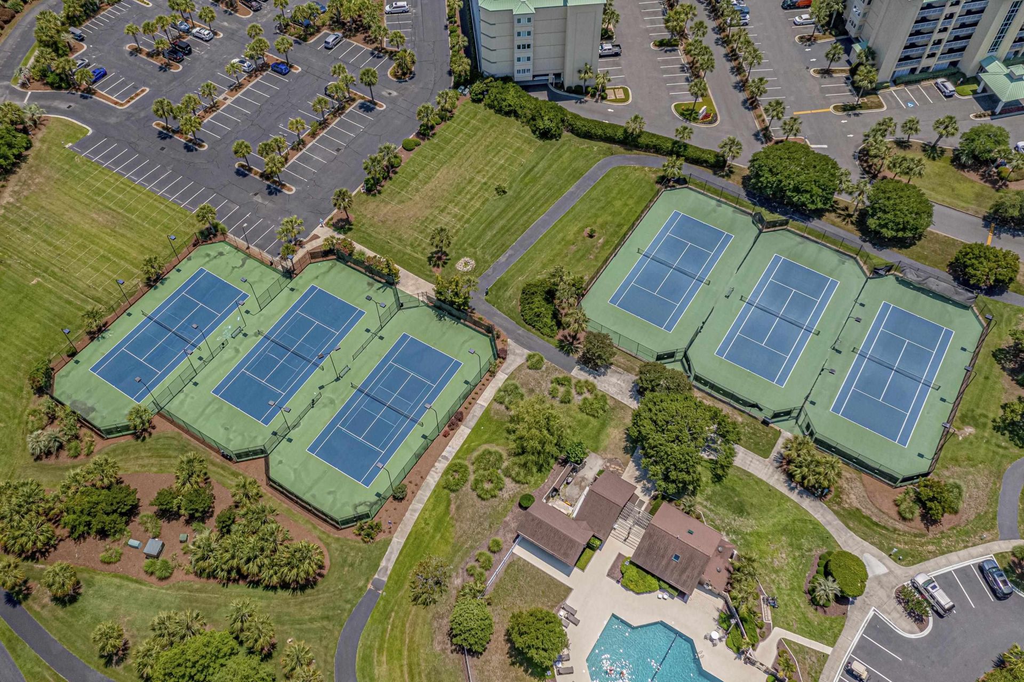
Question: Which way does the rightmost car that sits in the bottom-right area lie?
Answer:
at an angle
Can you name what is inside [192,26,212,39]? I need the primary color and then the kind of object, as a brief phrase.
gray vehicle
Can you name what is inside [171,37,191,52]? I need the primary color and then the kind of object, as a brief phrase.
black car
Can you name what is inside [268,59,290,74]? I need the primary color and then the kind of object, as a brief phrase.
blue car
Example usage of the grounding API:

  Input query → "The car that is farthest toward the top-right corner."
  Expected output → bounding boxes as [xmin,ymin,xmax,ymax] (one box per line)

[937,76,962,95]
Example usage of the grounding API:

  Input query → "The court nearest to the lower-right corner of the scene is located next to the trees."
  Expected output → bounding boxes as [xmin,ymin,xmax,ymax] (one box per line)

[796,275,982,488]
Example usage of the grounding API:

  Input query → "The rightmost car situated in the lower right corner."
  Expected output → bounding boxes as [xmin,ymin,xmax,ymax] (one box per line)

[982,556,1018,596]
